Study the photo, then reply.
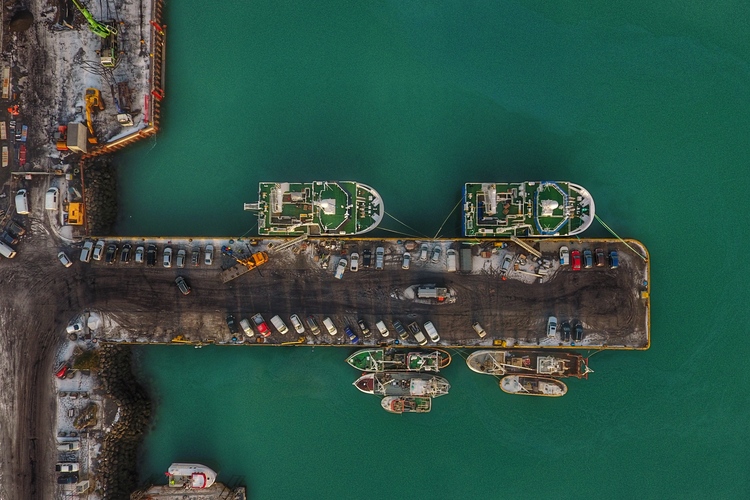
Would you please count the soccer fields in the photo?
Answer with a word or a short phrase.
none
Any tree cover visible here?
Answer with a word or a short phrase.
No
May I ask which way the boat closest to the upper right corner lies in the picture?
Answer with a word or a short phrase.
from side to side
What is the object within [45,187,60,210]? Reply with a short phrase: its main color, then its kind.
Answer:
white vehicle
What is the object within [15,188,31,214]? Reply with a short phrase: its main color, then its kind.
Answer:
white vehicle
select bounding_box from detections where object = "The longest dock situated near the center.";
[92,239,650,348]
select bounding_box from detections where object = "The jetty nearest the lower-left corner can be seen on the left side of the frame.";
[134,474,248,500]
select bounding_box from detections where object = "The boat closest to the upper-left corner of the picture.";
[244,182,384,236]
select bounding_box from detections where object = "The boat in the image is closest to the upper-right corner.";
[460,183,595,236]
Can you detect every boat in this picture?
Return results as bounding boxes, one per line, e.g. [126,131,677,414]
[460,183,595,236]
[500,376,567,396]
[166,462,218,488]
[345,348,452,372]
[465,349,594,379]
[381,396,432,417]
[244,182,384,236]
[353,371,450,398]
